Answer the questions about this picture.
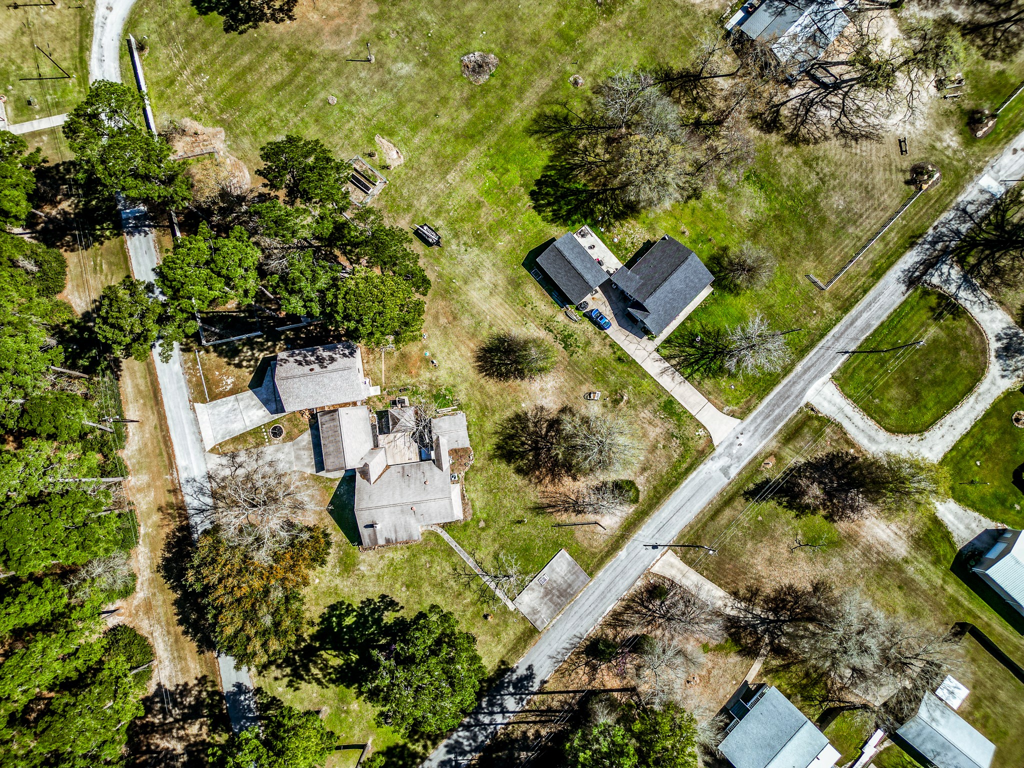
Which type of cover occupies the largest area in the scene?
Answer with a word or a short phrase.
grass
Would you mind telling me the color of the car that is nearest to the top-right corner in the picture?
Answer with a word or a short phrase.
blue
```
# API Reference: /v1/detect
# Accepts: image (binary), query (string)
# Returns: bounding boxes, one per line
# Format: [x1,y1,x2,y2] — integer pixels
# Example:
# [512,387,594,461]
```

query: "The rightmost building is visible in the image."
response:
[970,529,1024,618]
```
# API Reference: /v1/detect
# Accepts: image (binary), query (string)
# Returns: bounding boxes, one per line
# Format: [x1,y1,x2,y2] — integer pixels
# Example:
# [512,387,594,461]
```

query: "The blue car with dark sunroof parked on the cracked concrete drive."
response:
[590,308,613,331]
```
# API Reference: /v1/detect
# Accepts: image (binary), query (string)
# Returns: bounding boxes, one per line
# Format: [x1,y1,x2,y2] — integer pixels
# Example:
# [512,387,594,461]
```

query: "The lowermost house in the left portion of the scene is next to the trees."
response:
[318,406,470,547]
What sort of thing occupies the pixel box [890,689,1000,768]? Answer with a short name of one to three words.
house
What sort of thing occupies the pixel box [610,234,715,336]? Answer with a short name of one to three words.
house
